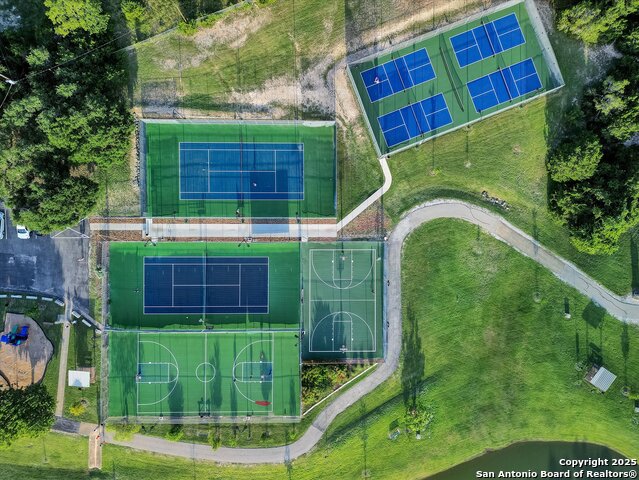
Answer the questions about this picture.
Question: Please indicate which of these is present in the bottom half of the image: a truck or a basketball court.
basketball court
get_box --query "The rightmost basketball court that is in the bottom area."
[302,243,384,361]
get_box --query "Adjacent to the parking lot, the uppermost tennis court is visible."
[147,124,336,216]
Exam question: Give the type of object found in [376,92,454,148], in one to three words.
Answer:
sports court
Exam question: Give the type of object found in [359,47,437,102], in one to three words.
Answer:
sports court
